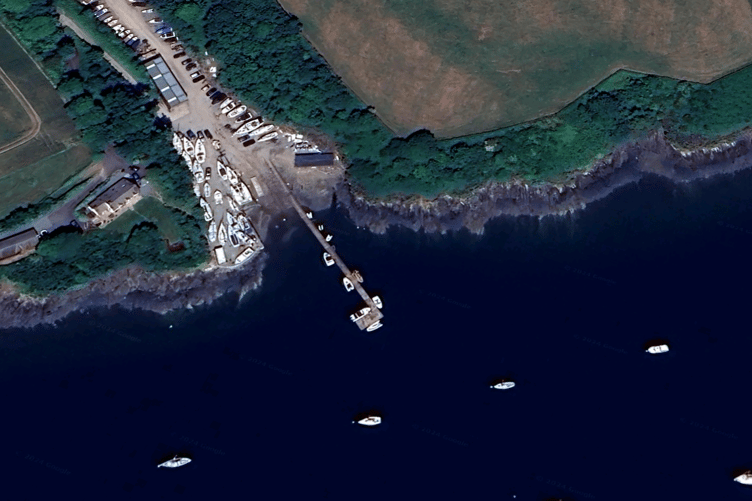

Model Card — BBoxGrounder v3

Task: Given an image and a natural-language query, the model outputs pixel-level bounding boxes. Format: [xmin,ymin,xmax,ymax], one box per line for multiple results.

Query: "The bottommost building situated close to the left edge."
[0,227,40,259]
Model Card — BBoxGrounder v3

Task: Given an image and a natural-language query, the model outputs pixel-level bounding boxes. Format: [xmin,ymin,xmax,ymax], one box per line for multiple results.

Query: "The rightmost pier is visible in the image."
[265,159,383,331]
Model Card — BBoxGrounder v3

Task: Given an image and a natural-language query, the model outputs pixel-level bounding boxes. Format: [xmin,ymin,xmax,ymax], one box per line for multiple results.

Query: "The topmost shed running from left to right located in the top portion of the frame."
[295,154,333,167]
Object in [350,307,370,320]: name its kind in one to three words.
boat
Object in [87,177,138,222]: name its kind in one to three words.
house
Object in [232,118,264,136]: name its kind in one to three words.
boat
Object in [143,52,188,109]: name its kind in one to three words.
shed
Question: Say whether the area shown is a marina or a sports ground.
marina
